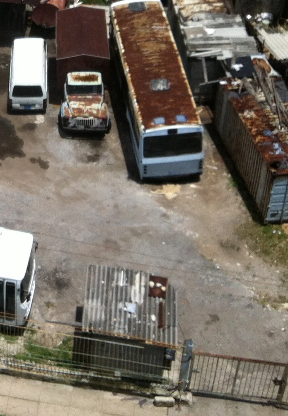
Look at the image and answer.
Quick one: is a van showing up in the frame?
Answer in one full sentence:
Yes, the frame does contain a van.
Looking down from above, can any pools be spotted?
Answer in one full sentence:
No, there's no pool here.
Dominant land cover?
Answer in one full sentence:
For the most part, this view shows paved ground.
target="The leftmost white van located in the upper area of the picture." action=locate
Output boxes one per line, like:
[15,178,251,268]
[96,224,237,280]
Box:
[9,45,51,114]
